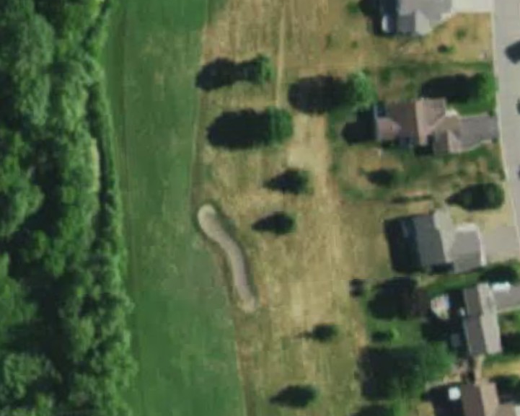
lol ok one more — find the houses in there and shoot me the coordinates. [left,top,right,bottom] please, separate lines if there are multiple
[400,210,487,275]
[381,0,457,35]
[464,283,504,357]
[456,382,519,416]
[378,95,464,152]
